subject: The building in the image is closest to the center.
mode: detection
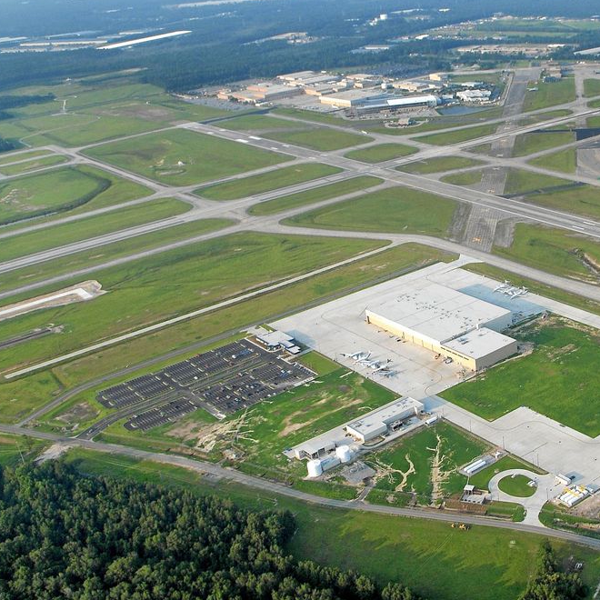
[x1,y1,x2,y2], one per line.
[256,328,302,357]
